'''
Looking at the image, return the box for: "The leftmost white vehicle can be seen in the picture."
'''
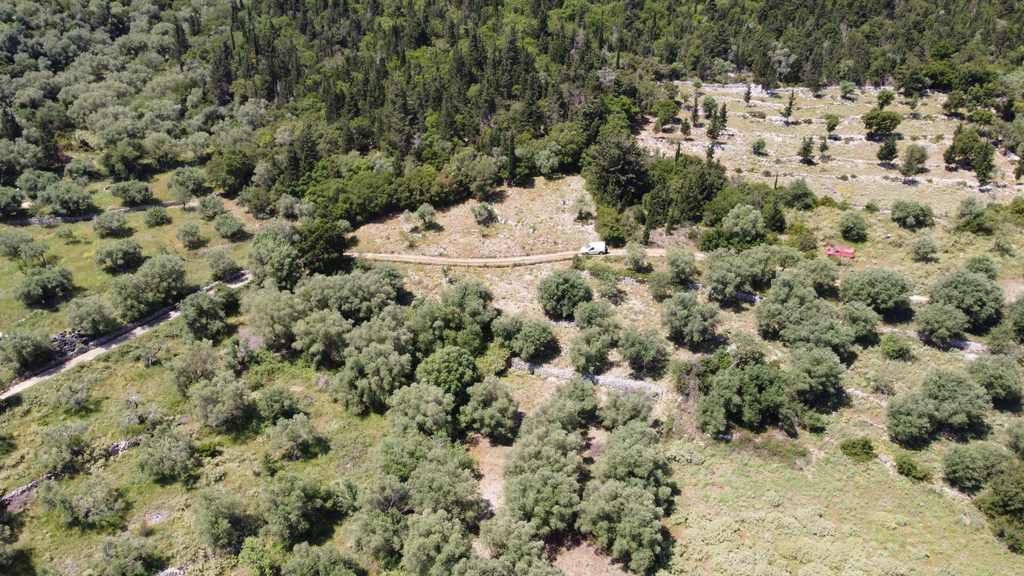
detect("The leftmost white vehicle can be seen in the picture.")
[581,242,606,256]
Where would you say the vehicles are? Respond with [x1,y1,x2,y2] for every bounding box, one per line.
[826,247,856,259]
[581,242,606,256]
